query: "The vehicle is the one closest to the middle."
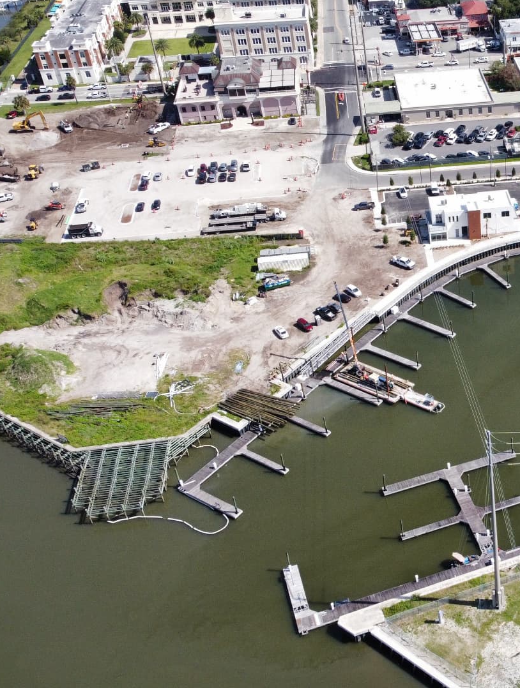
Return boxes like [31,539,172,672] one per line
[272,322,290,337]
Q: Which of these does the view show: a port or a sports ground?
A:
port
